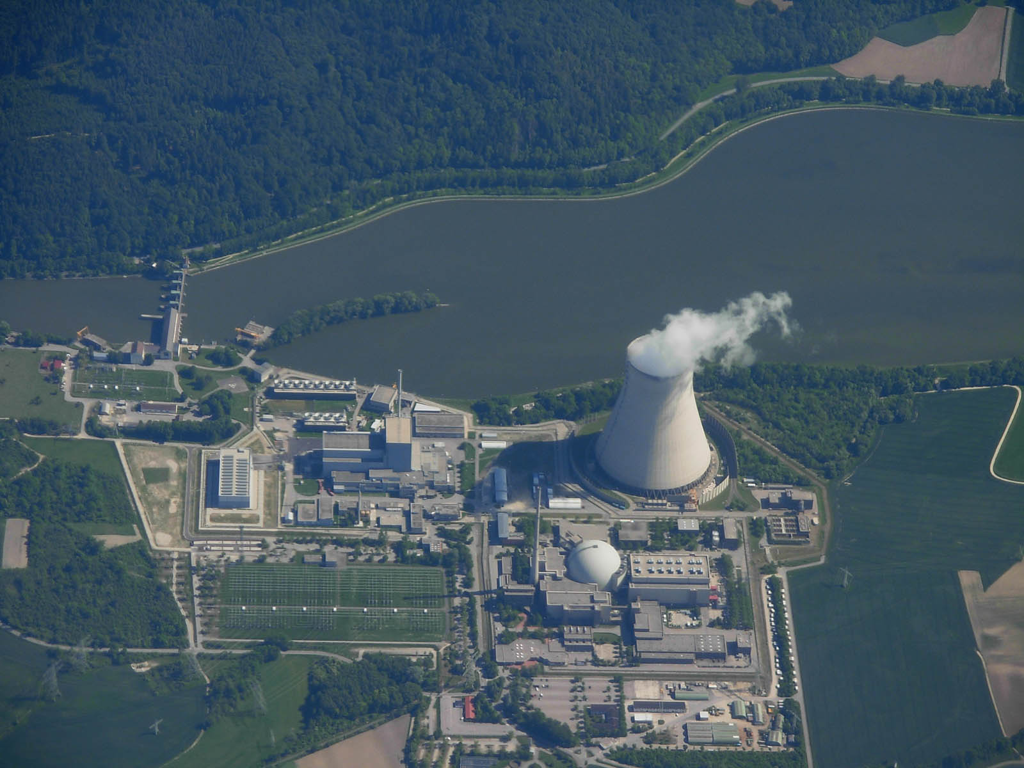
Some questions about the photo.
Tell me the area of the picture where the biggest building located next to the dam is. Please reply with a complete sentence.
The biggest building located next to the dam is in the left part of the image.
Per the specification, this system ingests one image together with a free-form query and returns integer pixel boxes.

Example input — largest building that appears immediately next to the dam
[159,308,181,363]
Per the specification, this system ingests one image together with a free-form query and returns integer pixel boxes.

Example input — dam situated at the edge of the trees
[156,265,188,315]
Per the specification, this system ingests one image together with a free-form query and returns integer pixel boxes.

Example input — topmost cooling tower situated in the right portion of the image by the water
[586,332,720,503]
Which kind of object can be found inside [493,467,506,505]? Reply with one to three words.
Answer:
building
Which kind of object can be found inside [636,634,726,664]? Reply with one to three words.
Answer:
building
